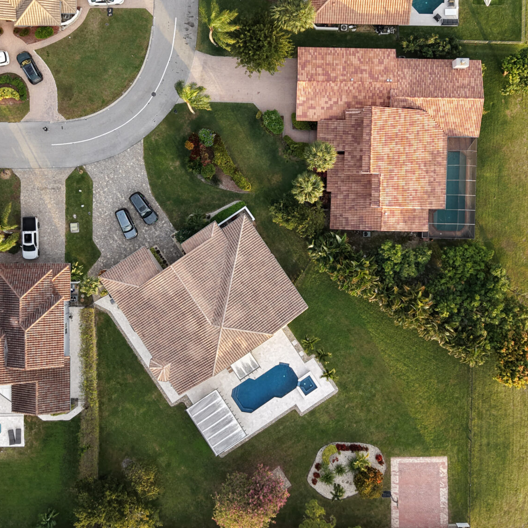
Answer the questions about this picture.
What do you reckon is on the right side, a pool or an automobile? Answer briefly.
pool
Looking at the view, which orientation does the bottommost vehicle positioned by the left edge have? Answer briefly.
up and down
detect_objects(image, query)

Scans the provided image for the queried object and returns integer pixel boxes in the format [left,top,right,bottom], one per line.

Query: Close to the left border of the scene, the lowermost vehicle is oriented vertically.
[21,216,41,258]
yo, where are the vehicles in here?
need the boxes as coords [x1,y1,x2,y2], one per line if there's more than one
[130,190,158,226]
[17,50,44,86]
[0,50,10,66]
[21,216,41,258]
[113,207,138,241]
[88,0,124,6]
